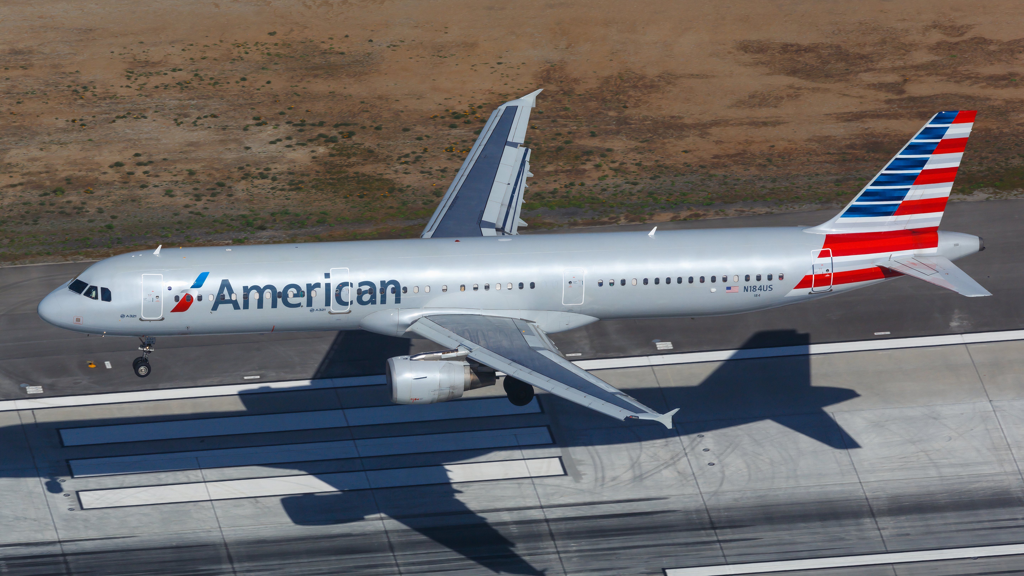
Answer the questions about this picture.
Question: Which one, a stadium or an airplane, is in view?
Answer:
airplane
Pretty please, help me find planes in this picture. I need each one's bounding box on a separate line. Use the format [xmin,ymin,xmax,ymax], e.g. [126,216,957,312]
[36,88,992,429]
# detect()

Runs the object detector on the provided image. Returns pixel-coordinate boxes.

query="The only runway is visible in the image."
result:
[0,329,1024,576]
